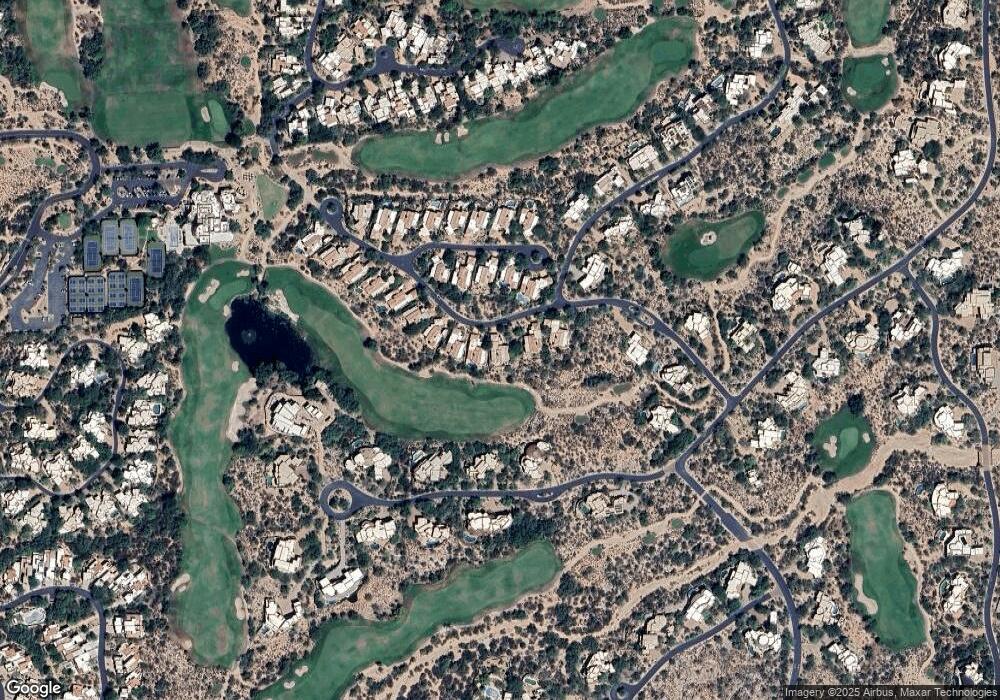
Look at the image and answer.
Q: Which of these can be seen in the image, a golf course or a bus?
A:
golf course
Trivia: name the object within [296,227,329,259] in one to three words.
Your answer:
house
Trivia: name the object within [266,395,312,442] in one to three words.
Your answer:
house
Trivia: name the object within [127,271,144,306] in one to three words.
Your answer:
tennis court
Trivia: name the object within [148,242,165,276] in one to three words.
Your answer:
tennis court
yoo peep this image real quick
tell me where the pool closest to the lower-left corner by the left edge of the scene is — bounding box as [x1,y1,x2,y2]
[24,609,45,625]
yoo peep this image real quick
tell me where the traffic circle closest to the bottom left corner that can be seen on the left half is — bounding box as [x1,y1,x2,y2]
[321,480,360,519]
